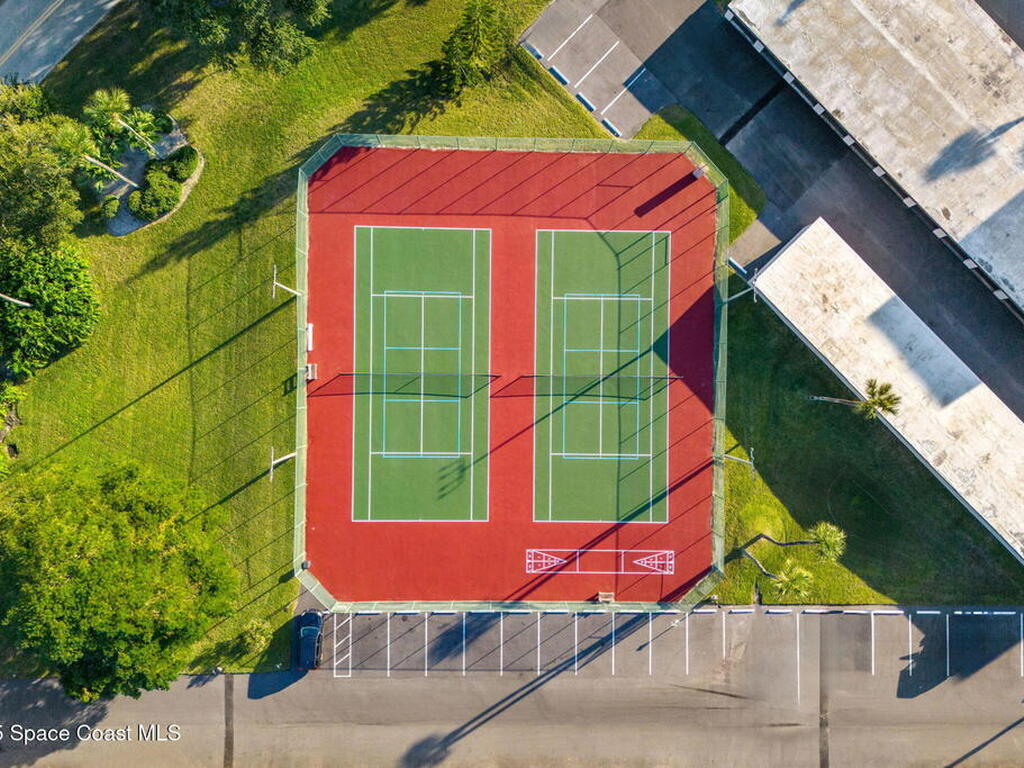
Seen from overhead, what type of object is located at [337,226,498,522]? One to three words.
tennis court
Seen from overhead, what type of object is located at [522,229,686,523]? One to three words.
tennis court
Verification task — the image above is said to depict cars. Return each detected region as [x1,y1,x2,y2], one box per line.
[294,608,324,671]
